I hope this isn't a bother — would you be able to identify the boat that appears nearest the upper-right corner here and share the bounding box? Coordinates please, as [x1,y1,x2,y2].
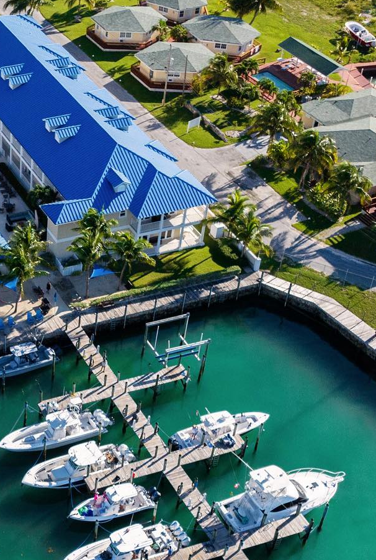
[343,22,376,53]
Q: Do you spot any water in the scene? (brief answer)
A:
Yes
